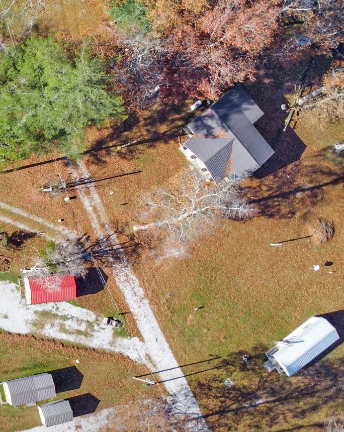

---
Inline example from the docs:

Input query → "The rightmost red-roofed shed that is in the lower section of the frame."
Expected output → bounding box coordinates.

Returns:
[24,275,76,304]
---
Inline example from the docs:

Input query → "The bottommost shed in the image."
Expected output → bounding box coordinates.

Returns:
[37,398,73,428]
